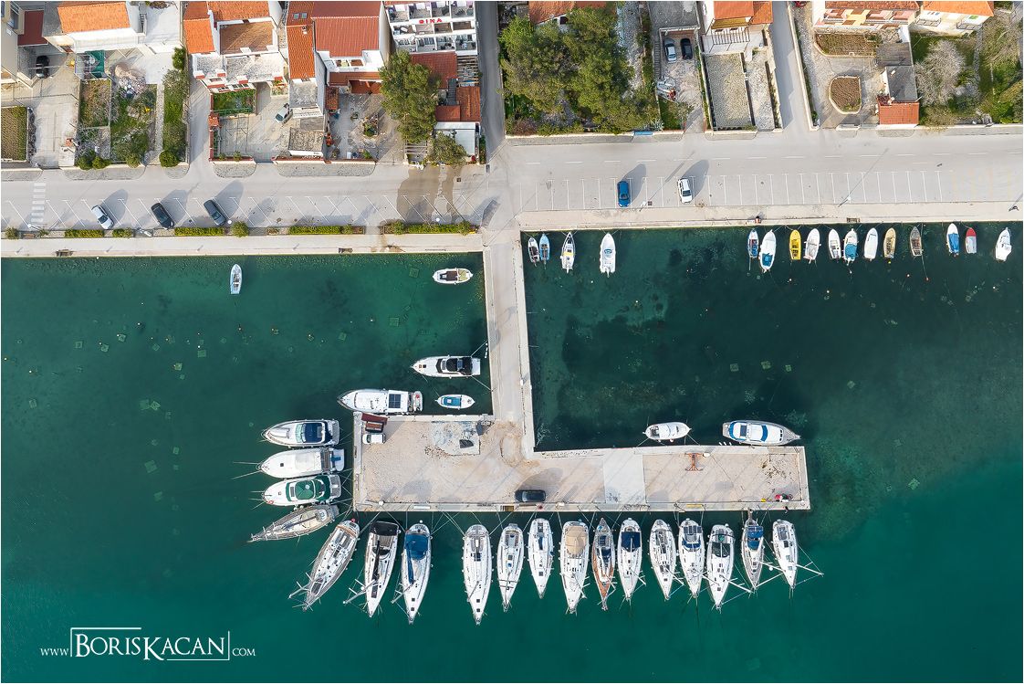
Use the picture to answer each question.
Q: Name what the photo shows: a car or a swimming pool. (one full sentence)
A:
There is a car in the scene.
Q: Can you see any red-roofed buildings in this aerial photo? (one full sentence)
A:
Yes, a red-roofed building can be made out from above.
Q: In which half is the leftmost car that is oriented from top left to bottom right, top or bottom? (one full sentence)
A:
The top half of the photo is where the leftmost car that is oriented from top left to bottom right is.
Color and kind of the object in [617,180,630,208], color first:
blue vehicle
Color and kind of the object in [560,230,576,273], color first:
white boat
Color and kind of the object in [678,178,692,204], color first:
white car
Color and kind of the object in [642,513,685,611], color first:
white boat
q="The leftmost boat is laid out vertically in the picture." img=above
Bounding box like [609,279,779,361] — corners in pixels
[230,264,242,299]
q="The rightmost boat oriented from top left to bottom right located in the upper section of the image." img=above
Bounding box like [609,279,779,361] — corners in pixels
[658,81,679,99]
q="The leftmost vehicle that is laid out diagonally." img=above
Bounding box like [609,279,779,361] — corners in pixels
[88,203,116,231]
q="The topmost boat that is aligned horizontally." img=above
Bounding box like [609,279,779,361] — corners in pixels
[433,267,472,286]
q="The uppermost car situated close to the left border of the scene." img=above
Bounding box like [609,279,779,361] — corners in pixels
[36,54,51,80]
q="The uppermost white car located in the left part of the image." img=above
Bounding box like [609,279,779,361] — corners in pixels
[273,104,292,124]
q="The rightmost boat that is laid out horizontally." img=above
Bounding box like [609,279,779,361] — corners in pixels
[718,420,805,449]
